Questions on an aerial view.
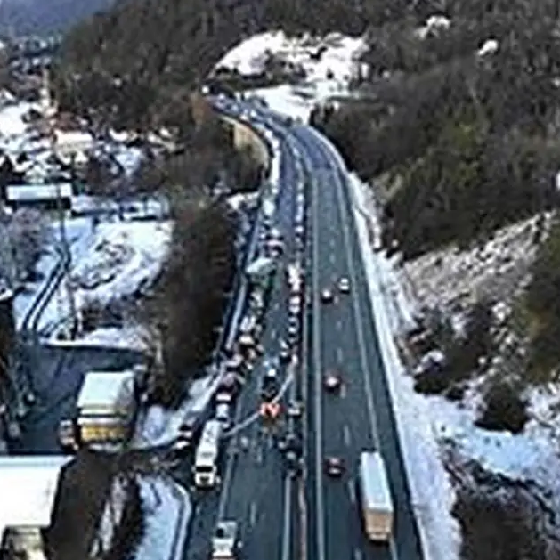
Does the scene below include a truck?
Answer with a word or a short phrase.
Yes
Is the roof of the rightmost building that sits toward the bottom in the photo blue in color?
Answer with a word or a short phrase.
No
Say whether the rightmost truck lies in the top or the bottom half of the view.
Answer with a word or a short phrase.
bottom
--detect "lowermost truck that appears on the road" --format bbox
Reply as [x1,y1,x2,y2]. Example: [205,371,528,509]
[210,528,240,560]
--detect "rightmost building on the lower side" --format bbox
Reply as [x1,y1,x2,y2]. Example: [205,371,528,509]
[72,367,140,442]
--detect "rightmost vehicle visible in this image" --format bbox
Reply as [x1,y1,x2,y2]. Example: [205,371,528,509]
[358,451,394,539]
